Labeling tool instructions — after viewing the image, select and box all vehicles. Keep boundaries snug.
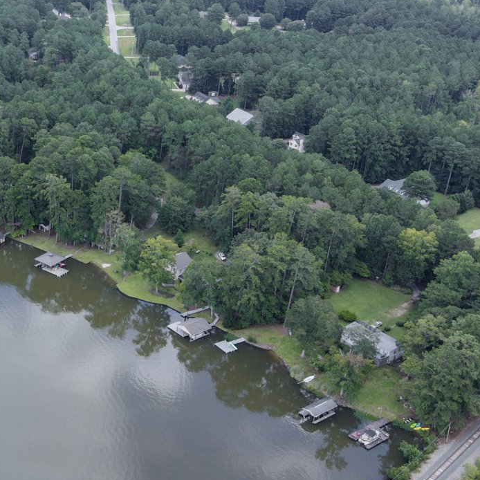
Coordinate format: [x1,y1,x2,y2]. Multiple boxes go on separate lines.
[217,252,228,261]
[373,321,386,331]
